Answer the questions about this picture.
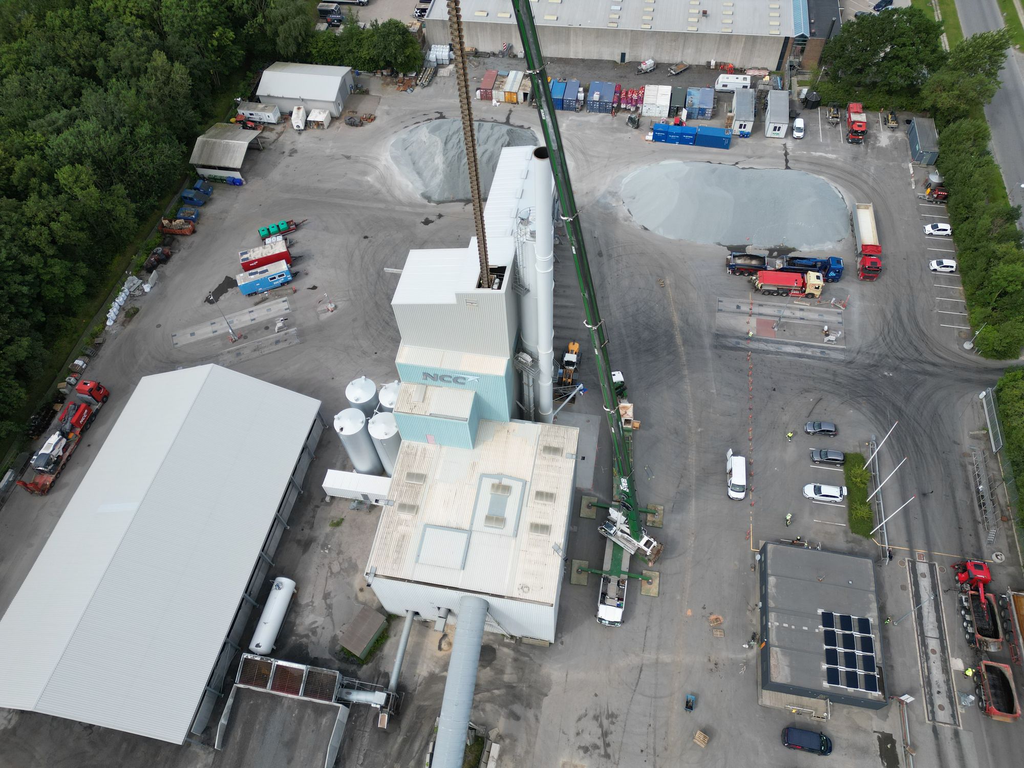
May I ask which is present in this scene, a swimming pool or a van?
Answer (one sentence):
The image shows a van.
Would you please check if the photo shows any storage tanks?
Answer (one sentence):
Yes, looking at the shot, I can spot a storage tank.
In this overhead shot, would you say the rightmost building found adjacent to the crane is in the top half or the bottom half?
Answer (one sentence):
The rightmost building found adjacent to the crane sits in the bottom half of the picture.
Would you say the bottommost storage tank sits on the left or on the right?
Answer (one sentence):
It is on the left.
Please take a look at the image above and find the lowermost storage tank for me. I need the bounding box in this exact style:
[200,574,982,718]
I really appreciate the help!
[250,575,299,657]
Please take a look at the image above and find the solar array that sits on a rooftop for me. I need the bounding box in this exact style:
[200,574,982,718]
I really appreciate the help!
[815,610,880,697]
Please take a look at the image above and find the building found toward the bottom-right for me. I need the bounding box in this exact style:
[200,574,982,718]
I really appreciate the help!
[754,542,890,735]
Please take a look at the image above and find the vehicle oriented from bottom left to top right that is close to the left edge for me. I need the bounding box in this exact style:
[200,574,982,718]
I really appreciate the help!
[19,382,109,492]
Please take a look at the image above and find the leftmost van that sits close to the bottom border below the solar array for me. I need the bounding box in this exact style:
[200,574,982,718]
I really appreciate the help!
[782,726,831,756]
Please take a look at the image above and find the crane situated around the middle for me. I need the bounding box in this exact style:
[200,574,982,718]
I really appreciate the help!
[513,0,662,629]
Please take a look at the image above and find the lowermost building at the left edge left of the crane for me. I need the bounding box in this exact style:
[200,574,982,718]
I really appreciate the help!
[0,364,328,752]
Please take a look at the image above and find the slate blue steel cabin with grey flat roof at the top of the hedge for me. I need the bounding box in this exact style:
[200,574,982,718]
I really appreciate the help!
[908,116,942,169]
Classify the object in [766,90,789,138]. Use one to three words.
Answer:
building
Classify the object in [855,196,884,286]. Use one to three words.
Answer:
truck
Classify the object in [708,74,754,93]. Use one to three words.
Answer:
camper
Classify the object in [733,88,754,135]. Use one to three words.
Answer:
building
